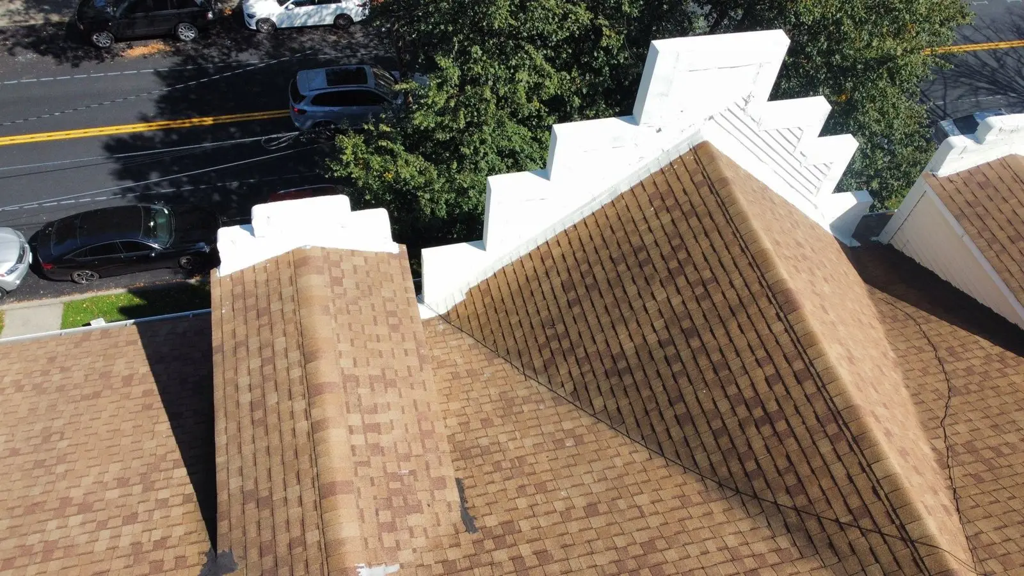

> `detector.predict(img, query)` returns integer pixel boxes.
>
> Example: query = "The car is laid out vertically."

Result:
[0,225,31,294]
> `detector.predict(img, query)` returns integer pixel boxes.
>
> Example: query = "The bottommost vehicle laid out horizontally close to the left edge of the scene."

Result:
[30,199,221,284]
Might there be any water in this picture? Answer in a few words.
No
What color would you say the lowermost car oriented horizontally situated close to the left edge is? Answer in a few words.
black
